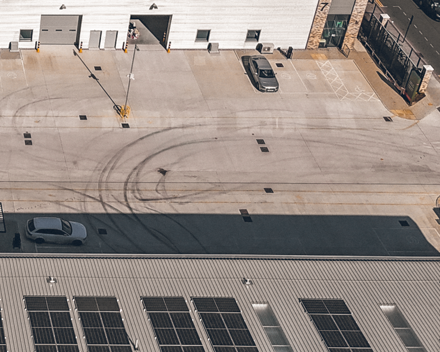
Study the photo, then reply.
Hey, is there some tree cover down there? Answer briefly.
No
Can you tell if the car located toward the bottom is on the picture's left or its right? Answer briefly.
left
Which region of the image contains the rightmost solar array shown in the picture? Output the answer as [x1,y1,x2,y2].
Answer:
[300,297,375,352]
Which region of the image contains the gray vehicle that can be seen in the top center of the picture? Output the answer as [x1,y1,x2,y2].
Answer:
[247,59,278,94]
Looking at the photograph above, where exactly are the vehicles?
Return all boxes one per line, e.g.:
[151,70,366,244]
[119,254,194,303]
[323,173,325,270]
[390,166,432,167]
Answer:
[247,59,278,94]
[25,219,89,249]
[417,0,440,21]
